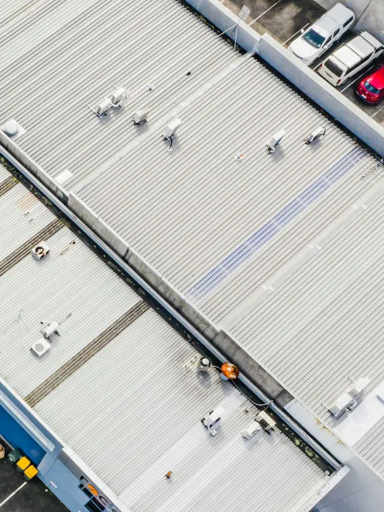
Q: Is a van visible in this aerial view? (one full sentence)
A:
Yes, a van can be made out from above.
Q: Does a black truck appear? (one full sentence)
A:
No, the photo shows no black truck.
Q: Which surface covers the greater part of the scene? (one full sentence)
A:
The largest share of the image is taken up by buildings.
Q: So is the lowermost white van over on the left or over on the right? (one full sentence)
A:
You can find the lowermost white van on the right side of the picture.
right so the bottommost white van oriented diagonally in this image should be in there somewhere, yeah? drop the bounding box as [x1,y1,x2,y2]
[320,34,377,84]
